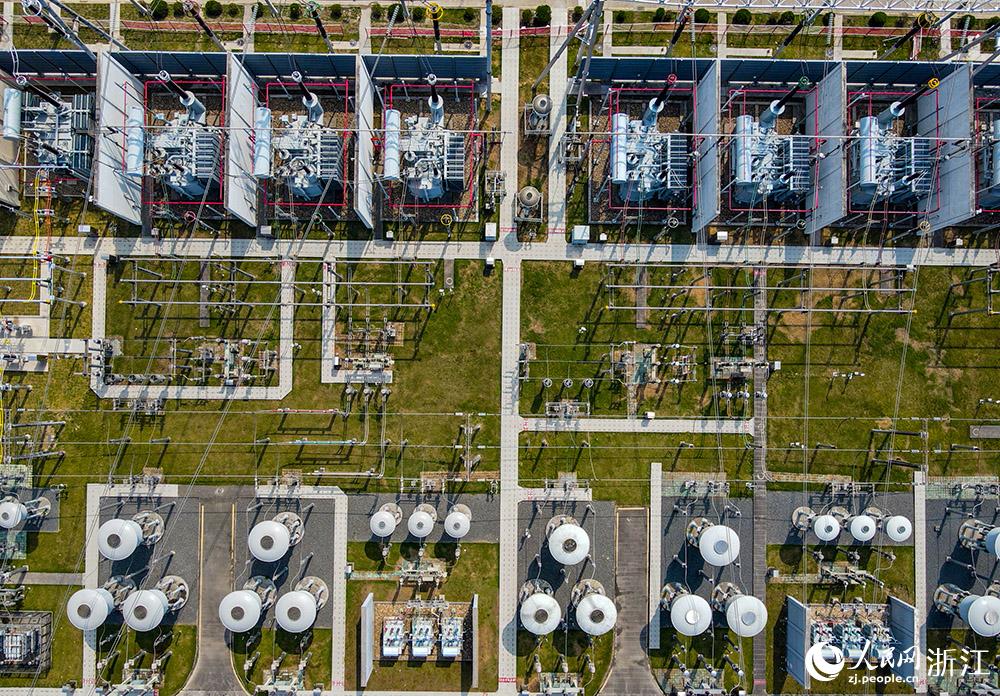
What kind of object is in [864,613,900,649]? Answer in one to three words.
storage tank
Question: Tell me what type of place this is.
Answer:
industrial area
